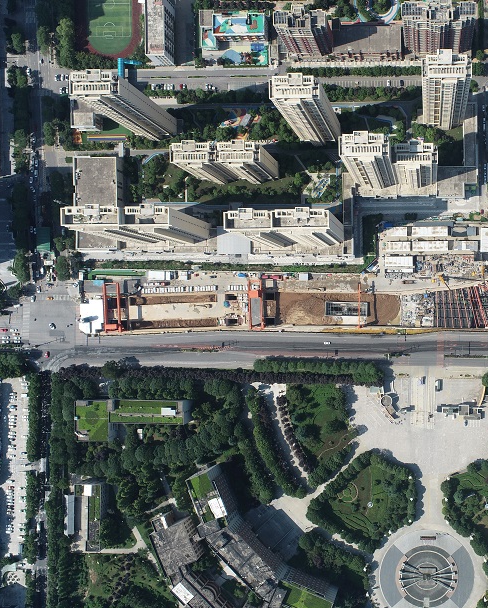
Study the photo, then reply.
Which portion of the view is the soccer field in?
top left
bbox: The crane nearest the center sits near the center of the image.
[246,281,268,328]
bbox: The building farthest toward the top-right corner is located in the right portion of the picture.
[401,0,475,54]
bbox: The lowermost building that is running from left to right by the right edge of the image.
[441,404,482,420]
